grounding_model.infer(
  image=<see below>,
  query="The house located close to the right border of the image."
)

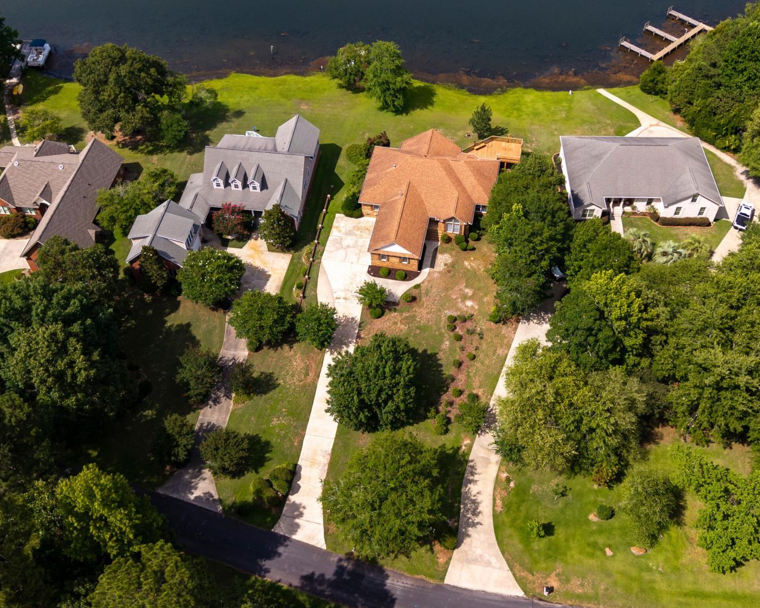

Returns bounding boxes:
[559,135,726,225]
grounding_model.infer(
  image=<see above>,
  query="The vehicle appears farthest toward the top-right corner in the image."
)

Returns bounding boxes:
[734,202,755,228]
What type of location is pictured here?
residential area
